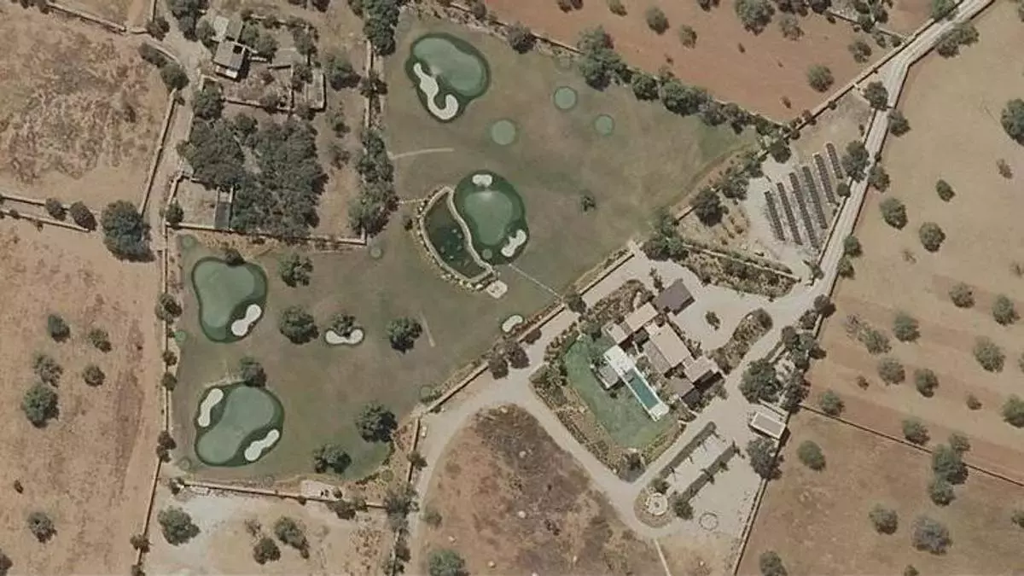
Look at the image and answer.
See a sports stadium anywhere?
No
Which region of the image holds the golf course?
center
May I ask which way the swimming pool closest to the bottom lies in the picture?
diagonally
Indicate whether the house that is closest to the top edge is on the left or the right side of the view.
left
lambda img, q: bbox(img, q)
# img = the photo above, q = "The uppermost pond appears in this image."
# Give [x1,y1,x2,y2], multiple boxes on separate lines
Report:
[420,188,492,282]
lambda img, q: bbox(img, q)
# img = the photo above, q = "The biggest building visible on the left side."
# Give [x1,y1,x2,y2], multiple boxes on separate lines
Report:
[212,40,245,78]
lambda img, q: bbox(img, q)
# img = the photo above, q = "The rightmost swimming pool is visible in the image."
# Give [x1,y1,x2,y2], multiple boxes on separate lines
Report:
[607,345,670,421]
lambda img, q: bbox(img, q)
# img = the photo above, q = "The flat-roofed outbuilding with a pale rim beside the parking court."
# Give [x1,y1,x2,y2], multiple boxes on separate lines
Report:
[752,413,785,439]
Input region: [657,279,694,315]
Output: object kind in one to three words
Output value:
building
